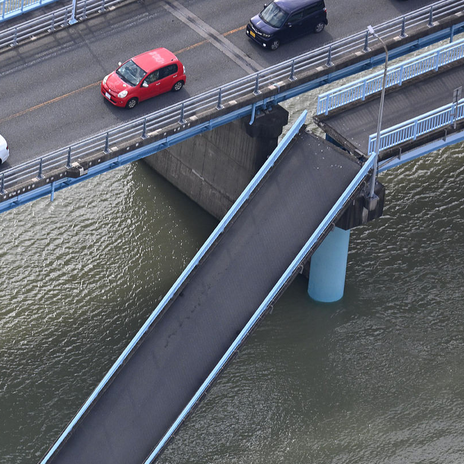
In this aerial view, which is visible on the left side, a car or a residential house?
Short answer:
car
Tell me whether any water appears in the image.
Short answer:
Yes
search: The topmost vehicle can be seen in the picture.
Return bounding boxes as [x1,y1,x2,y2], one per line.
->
[245,0,327,51]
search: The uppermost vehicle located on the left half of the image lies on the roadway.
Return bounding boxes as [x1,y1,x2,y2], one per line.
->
[98,46,187,110]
